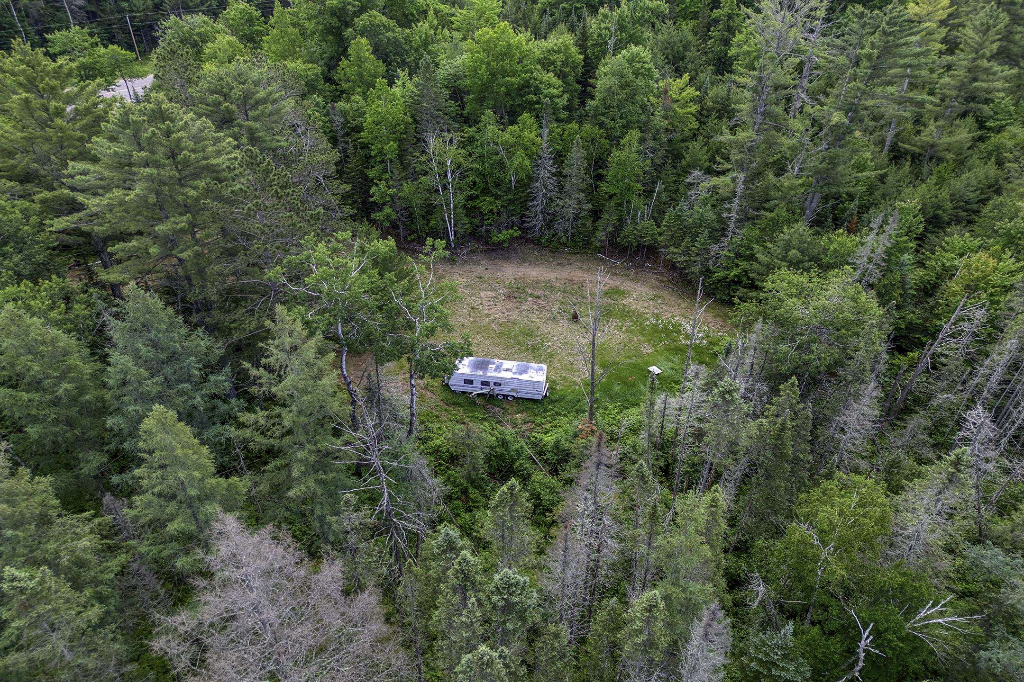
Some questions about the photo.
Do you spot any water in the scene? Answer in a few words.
No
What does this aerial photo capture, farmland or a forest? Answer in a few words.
forest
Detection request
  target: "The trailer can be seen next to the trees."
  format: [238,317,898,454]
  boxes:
[440,355,550,402]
